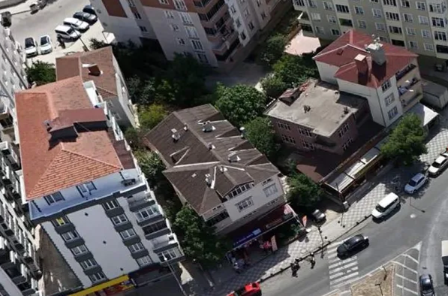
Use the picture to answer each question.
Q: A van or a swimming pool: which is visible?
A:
van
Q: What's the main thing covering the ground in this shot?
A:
buildings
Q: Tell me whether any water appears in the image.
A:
No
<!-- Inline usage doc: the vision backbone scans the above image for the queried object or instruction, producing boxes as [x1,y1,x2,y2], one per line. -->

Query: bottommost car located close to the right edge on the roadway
[419,274,435,296]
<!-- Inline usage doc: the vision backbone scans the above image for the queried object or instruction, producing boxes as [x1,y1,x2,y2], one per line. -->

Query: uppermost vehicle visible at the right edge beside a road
[427,154,448,177]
